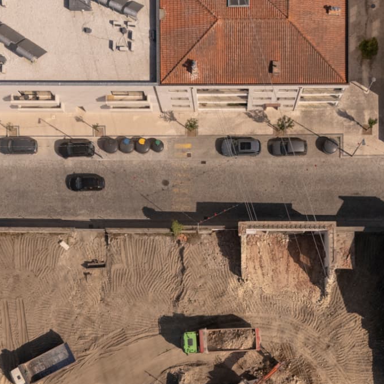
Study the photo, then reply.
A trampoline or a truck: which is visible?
truck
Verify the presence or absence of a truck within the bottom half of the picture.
Yes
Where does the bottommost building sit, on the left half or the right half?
right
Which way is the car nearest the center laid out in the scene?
horizontally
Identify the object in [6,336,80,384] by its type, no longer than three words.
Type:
truck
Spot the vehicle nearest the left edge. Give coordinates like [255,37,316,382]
[0,137,39,156]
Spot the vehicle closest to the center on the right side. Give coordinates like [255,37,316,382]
[221,137,263,157]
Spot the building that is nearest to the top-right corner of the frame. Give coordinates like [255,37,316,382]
[159,0,349,115]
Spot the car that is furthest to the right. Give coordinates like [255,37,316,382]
[272,138,307,157]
